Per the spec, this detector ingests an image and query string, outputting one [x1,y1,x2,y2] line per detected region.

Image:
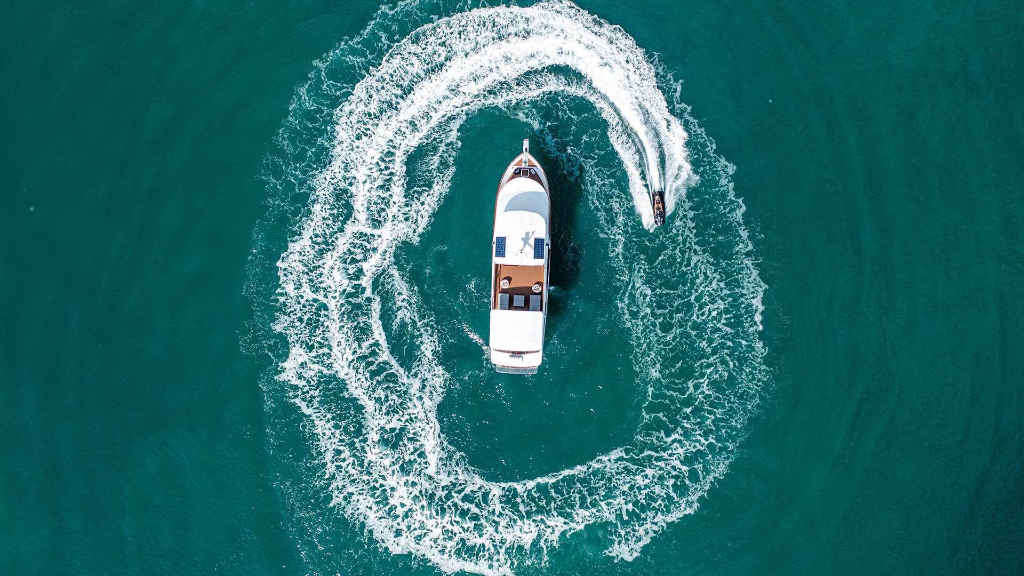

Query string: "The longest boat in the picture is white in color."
[490,139,551,374]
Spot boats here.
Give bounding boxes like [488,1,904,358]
[490,139,551,374]
[651,192,665,227]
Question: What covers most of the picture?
water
